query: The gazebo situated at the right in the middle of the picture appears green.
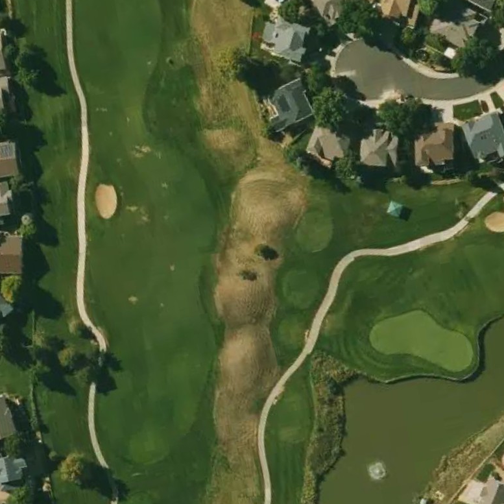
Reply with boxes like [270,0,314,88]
[387,200,405,218]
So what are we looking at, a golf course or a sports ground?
golf course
